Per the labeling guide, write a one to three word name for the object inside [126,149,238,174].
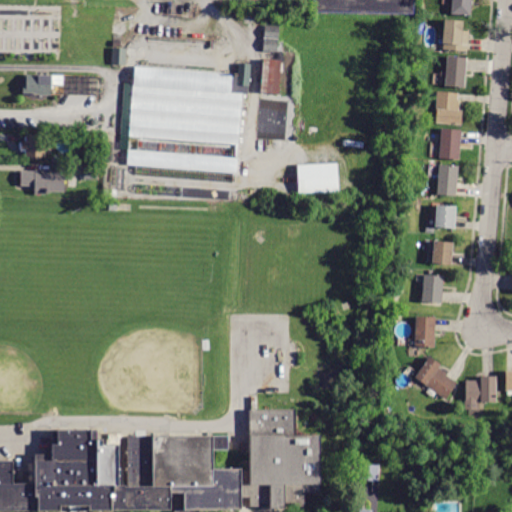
greenhouse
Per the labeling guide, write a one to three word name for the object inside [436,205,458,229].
house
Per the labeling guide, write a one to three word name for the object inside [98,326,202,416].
baseball field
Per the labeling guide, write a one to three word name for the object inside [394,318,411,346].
swimming pool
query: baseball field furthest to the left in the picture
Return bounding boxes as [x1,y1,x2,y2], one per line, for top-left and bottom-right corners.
[0,344,42,416]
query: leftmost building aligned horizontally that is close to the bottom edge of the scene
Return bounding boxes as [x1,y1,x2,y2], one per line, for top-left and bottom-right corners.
[34,398,320,512]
